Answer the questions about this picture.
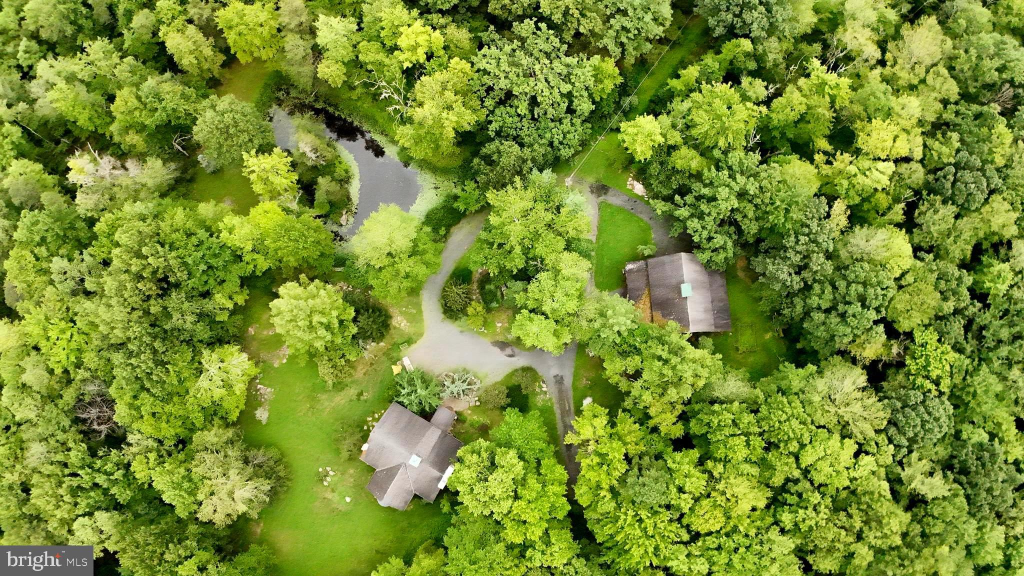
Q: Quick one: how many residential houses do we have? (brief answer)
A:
2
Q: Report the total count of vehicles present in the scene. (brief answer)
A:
0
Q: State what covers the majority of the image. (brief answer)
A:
trees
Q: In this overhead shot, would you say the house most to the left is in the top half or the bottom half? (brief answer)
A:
bottom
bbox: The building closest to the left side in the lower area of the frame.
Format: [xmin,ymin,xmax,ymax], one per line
[360,402,465,510]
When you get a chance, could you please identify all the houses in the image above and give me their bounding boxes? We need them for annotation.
[360,402,465,510]
[624,251,728,335]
